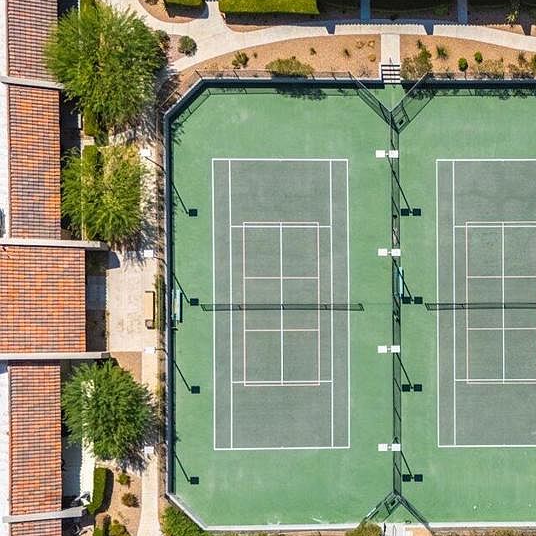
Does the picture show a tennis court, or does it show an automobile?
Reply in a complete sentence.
The one in the frame is a tennis court.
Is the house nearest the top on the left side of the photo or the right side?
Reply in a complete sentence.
You can find the house nearest the top on the left side of the picture.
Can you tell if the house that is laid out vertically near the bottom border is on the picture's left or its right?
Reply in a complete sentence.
The house that is laid out vertically near the bottom border sits on the left side.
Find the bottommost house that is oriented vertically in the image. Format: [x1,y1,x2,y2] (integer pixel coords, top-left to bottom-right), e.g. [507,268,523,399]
[0,360,62,514]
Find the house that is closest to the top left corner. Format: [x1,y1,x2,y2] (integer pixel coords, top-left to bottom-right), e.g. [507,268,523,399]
[0,0,58,82]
